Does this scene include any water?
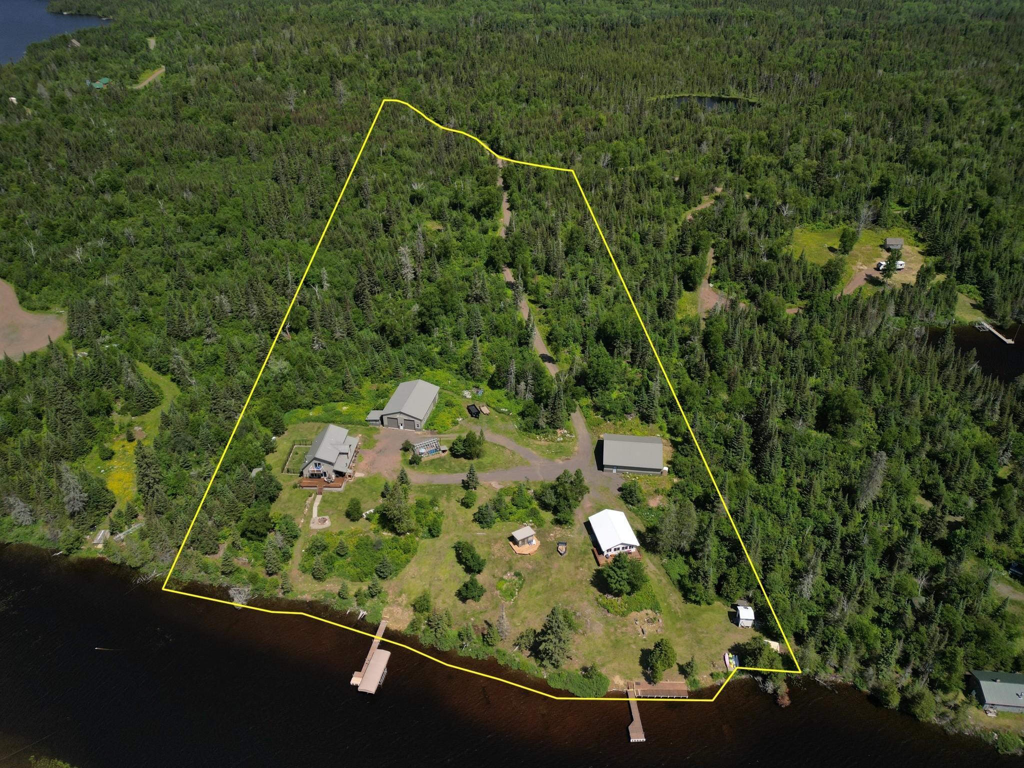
Yes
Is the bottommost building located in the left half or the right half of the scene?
right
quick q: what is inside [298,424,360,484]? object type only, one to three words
house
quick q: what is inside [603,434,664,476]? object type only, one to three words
barn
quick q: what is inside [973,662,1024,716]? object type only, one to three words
building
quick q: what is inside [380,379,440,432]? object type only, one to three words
building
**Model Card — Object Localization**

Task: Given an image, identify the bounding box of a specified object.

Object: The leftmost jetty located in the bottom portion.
[350,615,389,688]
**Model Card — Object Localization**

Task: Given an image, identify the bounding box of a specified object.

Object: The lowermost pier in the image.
[624,682,646,742]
